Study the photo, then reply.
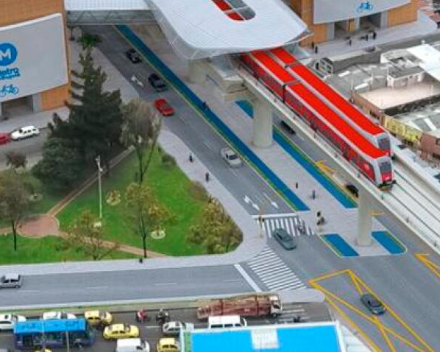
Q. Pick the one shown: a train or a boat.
train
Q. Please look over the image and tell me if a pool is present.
No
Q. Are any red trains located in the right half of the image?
Yes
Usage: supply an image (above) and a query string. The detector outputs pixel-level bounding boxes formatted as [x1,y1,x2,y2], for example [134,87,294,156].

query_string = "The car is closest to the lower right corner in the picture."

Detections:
[359,290,387,317]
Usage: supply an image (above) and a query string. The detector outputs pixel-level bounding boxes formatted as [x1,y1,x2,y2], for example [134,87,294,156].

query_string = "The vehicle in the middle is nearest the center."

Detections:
[221,148,242,168]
